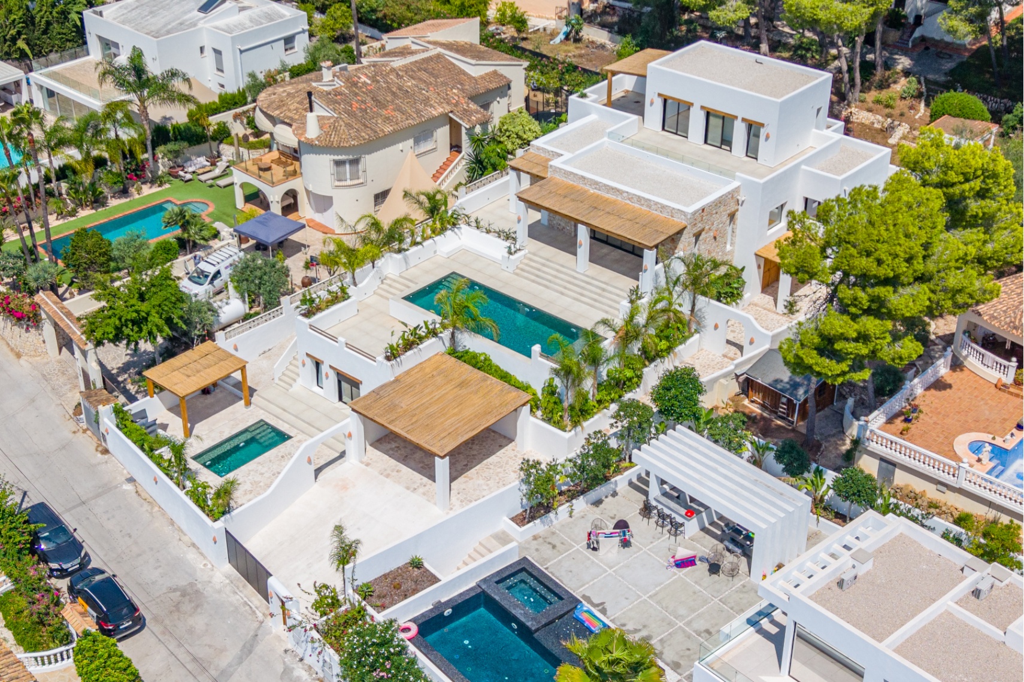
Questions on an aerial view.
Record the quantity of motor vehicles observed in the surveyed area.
3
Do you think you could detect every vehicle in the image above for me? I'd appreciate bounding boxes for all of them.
[64,566,145,639]
[12,491,88,570]
[187,239,257,302]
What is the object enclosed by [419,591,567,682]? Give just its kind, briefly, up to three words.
swimming pool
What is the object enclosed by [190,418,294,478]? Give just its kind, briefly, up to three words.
swimming pool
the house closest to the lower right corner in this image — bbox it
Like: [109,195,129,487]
[757,511,1024,682]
